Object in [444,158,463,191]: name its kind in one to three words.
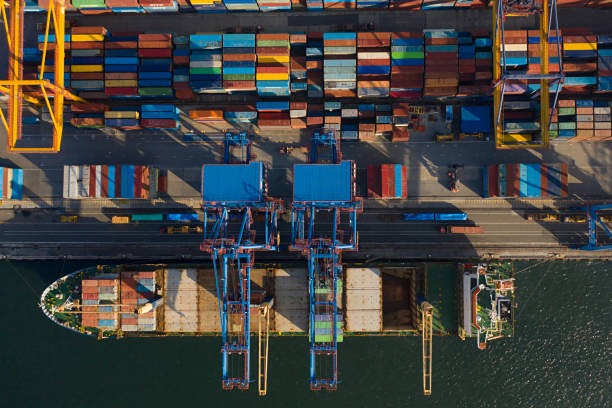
work vehicle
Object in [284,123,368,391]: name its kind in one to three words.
container crane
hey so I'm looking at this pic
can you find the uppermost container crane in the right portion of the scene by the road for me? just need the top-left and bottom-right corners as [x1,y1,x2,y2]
[465,0,568,149]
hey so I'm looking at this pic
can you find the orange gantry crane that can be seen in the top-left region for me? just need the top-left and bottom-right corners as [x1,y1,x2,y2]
[0,0,94,153]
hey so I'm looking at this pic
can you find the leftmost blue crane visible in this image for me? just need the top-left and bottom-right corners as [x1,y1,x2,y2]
[197,123,284,391]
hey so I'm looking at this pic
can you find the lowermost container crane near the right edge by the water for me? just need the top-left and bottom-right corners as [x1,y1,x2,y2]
[570,204,612,250]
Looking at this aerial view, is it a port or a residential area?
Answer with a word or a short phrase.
port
